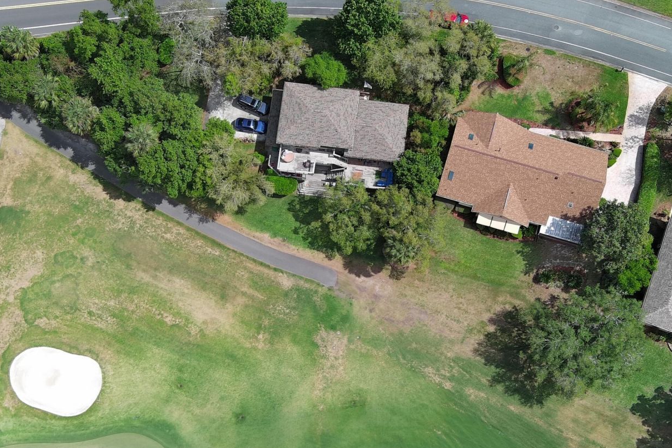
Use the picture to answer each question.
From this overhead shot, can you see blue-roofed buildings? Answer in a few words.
No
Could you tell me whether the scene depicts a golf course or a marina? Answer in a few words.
golf course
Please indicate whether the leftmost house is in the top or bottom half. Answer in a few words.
top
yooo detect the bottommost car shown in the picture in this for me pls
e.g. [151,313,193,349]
[235,118,267,134]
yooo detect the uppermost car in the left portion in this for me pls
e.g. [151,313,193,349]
[237,94,269,115]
